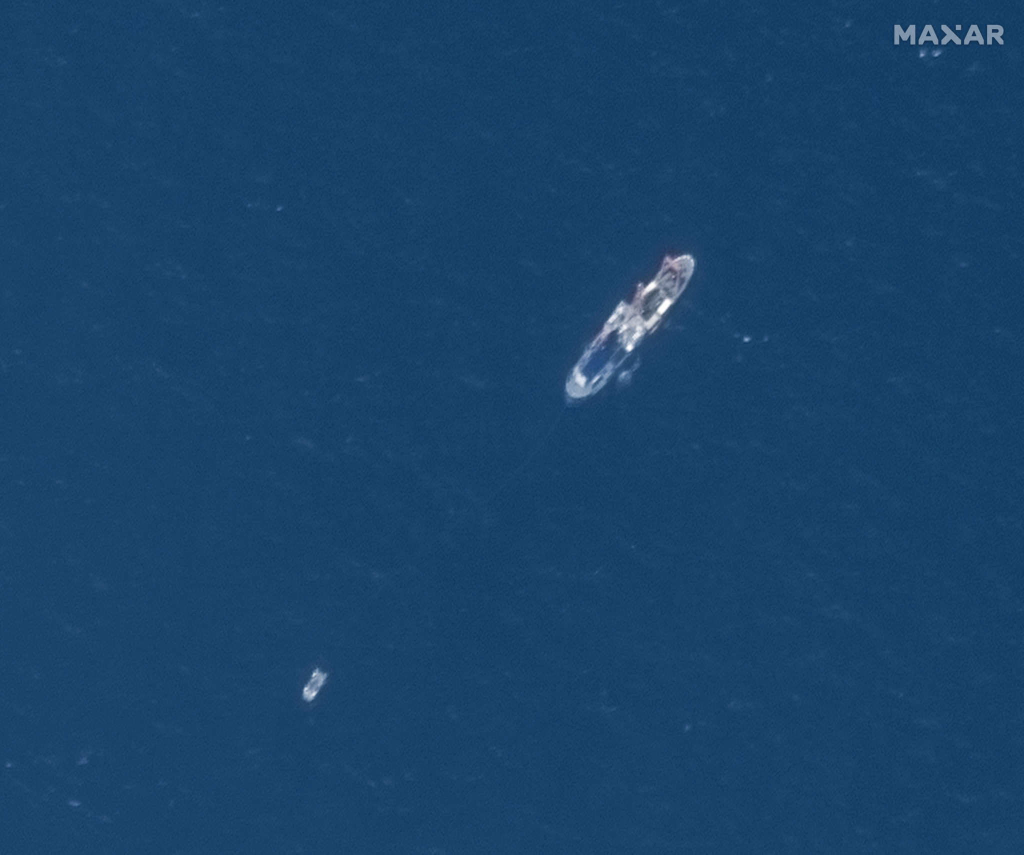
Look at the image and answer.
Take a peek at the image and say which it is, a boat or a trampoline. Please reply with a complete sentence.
The one in the frame is a boat.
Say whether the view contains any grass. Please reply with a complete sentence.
No, grass can't be seen anywhere here.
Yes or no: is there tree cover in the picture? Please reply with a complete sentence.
No, no tree cover is visible.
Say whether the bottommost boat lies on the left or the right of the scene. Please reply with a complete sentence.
It is on the left.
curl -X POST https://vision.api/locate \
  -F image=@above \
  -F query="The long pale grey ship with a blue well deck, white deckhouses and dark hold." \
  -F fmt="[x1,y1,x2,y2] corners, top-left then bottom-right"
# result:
[566,254,694,398]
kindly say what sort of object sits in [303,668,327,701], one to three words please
boat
